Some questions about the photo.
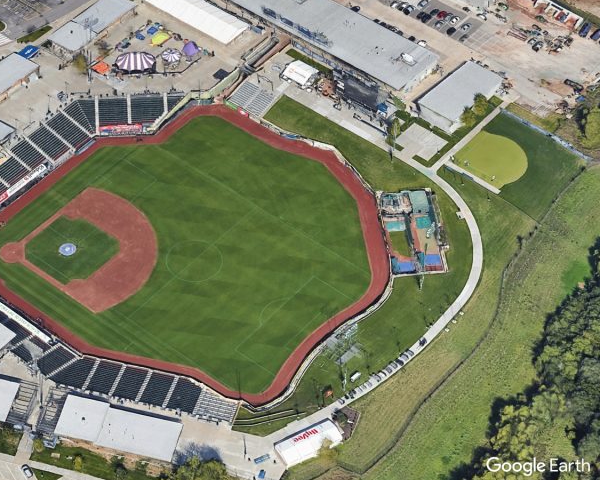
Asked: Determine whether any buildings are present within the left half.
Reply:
Yes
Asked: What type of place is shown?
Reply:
sports ground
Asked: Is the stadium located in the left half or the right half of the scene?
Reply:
left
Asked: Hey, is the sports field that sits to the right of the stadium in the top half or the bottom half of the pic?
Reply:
top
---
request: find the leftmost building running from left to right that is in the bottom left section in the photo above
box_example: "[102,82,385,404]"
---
[55,394,183,468]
